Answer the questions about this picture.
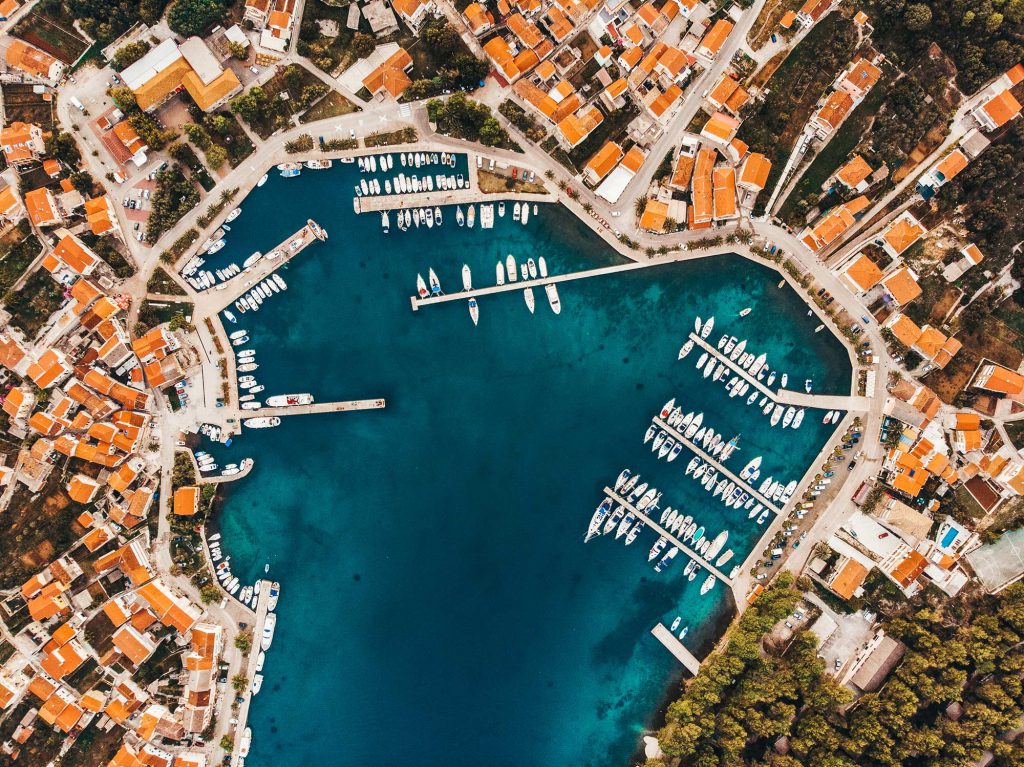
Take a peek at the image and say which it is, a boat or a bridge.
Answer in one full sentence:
The one in the frame is a boat.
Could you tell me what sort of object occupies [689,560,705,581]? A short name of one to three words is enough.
boat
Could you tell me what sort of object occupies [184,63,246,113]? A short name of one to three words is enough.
house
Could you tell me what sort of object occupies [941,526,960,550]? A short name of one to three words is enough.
swimming pool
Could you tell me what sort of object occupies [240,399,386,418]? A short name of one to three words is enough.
pier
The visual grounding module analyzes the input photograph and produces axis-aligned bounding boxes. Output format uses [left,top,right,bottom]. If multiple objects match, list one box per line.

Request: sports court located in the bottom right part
[966,523,1024,592]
